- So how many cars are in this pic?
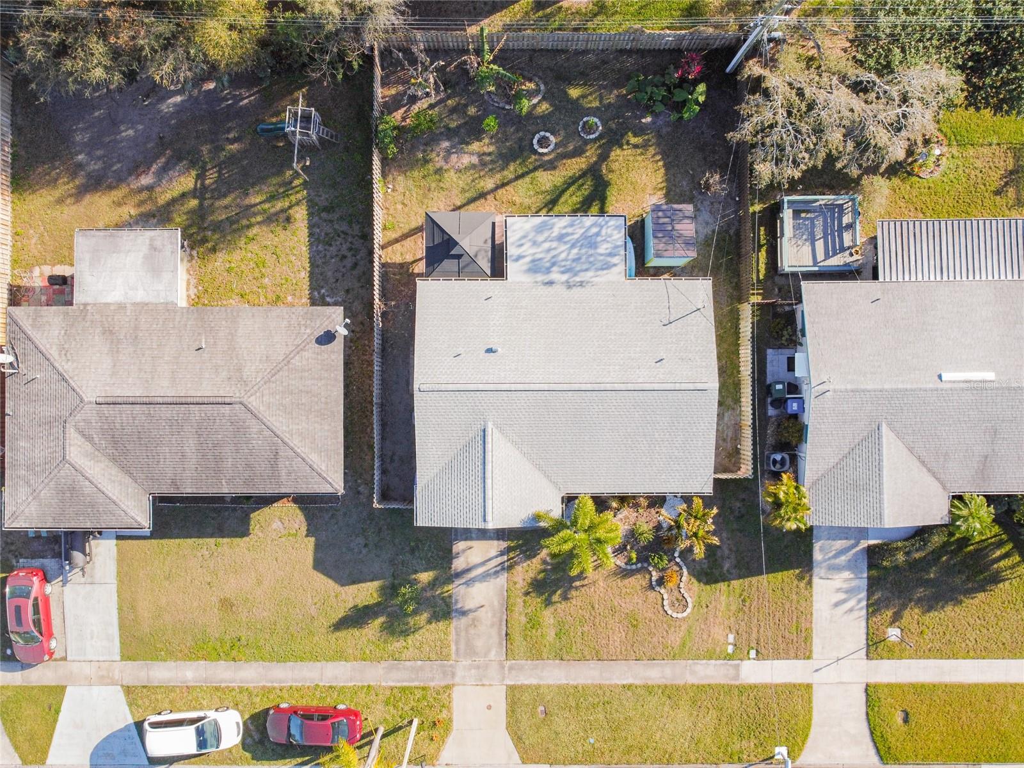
3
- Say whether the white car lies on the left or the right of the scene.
left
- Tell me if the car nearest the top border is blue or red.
red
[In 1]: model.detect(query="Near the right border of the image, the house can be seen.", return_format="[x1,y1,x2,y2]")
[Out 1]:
[793,218,1024,526]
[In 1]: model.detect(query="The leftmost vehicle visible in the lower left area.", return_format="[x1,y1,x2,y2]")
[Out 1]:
[6,570,61,662]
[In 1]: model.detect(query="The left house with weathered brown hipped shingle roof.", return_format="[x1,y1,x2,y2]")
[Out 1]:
[4,228,347,532]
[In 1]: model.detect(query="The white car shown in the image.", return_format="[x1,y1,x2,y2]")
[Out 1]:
[142,706,243,760]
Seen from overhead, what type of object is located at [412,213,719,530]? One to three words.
house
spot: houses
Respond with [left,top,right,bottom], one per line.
[412,213,719,530]
[4,228,347,532]
[793,218,1024,526]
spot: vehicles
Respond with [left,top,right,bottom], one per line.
[142,706,243,760]
[269,703,361,753]
[6,570,61,662]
